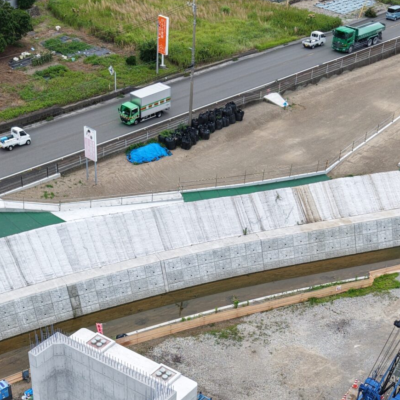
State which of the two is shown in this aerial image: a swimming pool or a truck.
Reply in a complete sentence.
Looking from above, you can make out a truck.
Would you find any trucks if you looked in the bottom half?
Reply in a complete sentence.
No, in the bottom half there is no truck.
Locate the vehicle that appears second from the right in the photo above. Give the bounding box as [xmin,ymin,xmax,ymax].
[331,21,383,54]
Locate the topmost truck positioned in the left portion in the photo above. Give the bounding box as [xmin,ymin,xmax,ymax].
[114,82,168,126]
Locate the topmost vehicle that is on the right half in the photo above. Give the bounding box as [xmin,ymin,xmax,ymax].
[386,5,400,21]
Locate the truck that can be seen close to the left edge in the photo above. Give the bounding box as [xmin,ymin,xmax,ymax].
[0,125,32,151]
